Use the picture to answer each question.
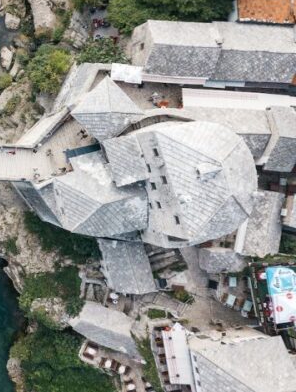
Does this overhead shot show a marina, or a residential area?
residential area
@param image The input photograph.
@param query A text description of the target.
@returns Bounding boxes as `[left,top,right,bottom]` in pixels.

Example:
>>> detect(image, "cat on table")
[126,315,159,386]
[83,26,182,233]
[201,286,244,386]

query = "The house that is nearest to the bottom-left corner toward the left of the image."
[59,299,145,362]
